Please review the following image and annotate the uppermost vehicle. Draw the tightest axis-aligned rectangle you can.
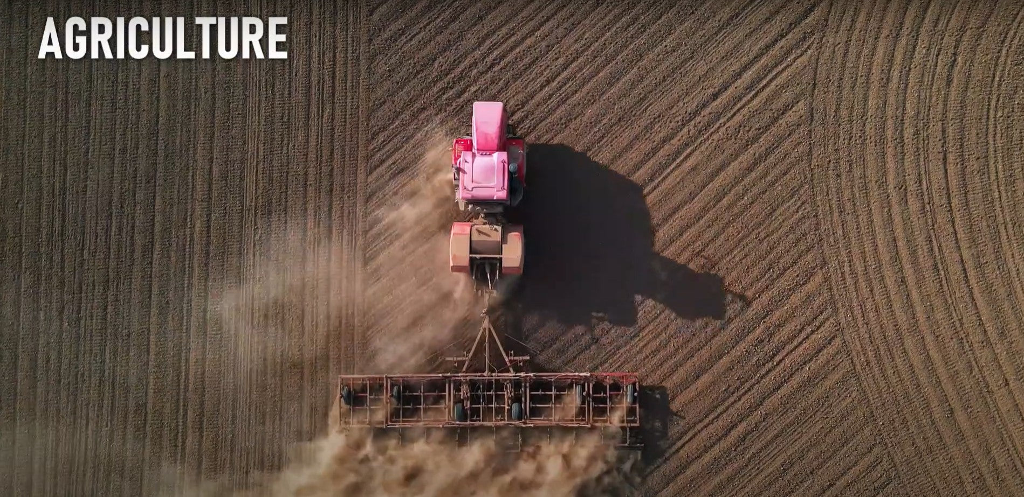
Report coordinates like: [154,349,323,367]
[448,102,526,309]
